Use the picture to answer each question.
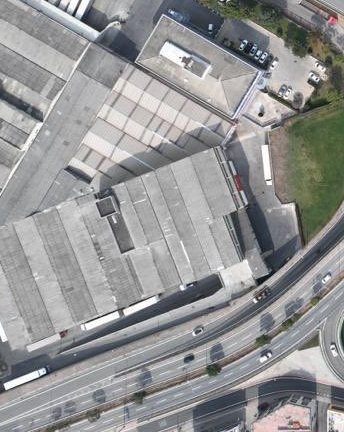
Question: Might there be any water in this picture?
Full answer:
No, no water is visible.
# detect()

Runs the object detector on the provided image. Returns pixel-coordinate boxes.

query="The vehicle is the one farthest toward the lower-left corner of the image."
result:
[1,365,52,391]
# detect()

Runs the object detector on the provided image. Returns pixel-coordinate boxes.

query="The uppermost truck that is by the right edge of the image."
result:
[298,0,337,23]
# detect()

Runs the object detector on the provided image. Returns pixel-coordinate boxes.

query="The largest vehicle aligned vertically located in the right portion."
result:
[259,143,274,184]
